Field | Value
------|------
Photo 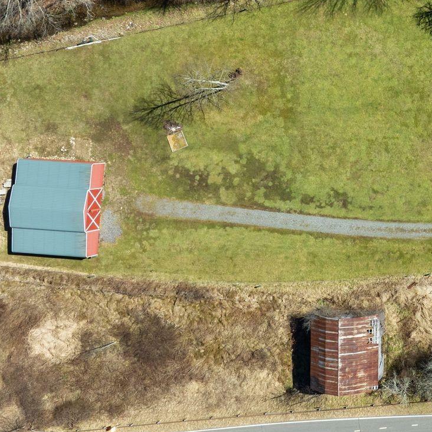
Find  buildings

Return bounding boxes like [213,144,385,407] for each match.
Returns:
[8,158,106,257]
[310,313,385,397]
